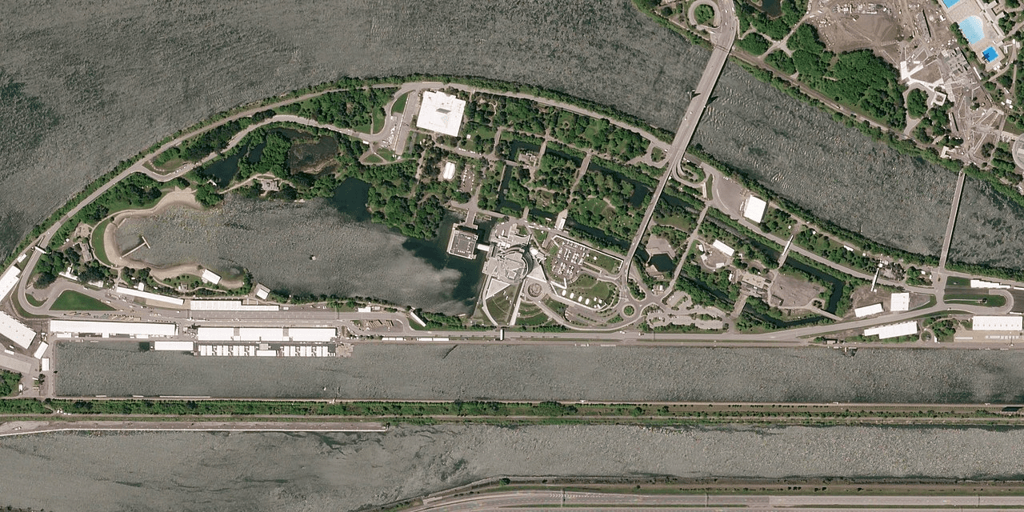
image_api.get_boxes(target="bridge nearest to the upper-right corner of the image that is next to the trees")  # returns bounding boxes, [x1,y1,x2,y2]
[940,171,965,267]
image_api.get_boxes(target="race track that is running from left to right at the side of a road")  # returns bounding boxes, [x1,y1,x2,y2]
[18,222,1016,340]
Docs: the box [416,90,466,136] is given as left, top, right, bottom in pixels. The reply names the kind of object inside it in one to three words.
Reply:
building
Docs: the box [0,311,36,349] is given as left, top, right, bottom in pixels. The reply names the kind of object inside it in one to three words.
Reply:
building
